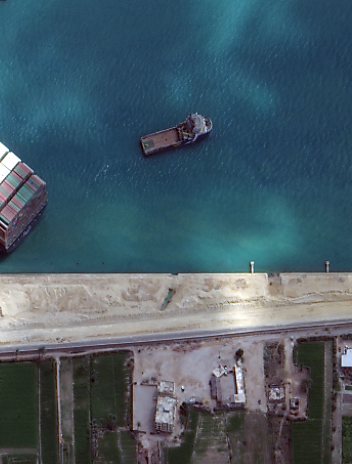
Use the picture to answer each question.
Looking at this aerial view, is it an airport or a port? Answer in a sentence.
The area seen from above is a port.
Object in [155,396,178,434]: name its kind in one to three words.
building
